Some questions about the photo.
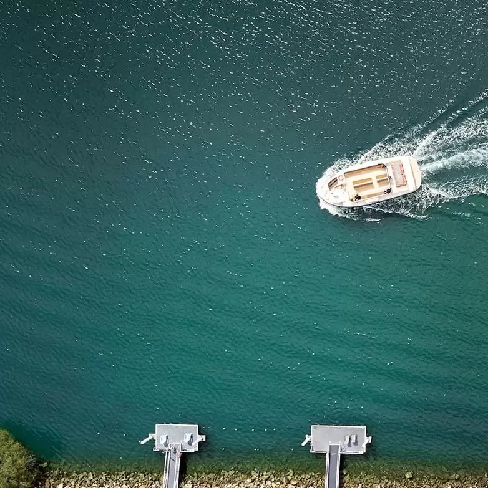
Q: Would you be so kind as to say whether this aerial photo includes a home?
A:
No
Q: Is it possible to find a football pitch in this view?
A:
No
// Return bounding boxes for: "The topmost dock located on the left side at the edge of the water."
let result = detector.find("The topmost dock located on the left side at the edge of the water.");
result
[148,423,206,452]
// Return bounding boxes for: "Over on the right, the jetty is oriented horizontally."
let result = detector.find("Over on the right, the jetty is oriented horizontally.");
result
[305,424,372,454]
